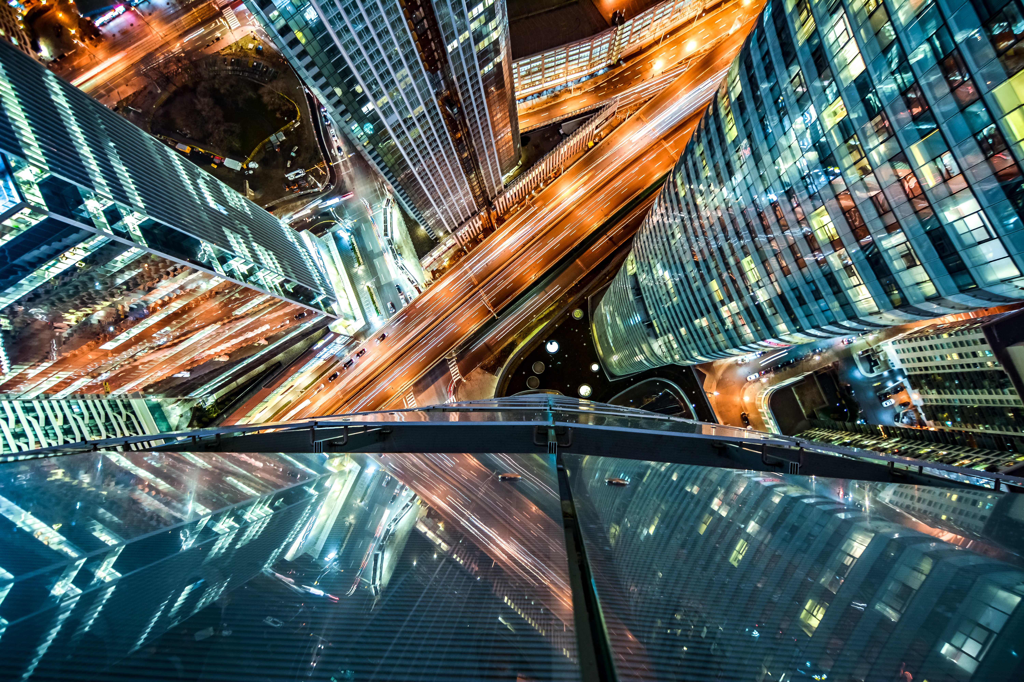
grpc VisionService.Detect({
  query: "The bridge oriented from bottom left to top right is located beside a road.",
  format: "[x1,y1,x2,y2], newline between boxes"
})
[267,8,763,422]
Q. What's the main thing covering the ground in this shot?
buildings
